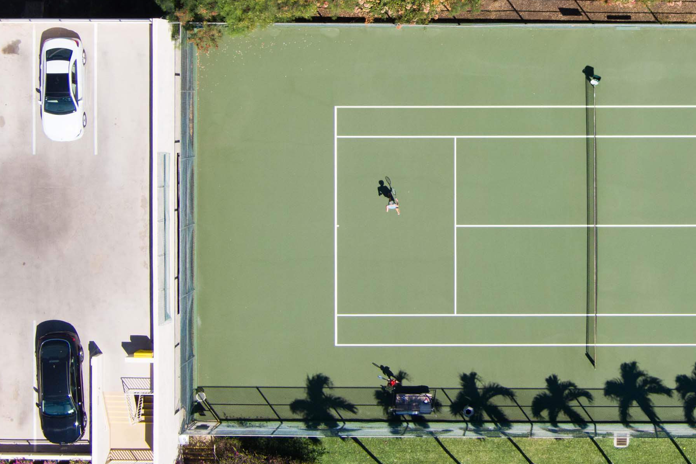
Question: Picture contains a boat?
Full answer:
No, the photo shows no boat.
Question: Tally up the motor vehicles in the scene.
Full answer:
In total, 2 motor vehicles can be seen.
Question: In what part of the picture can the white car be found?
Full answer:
The white car appears toward the top left of the photo.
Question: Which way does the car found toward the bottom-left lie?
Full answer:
In this picture, the car found toward the bottom-left is oriented vertically.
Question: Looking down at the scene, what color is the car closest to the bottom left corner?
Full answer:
The car closest to the bottom left corner looks black in the image.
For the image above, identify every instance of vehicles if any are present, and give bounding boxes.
[29,328,84,441]
[30,33,85,141]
